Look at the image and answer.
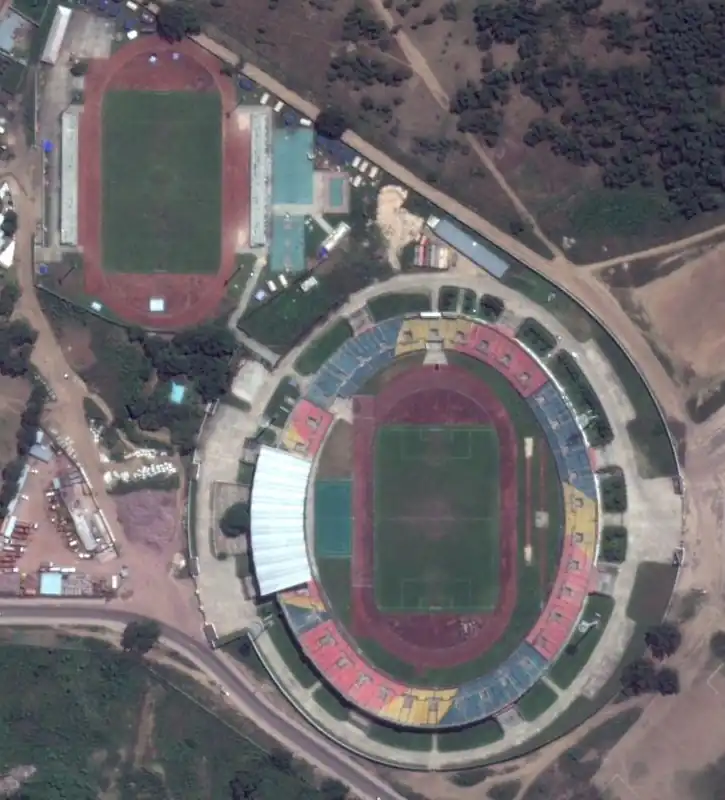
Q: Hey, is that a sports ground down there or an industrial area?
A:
sports ground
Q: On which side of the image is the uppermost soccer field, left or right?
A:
left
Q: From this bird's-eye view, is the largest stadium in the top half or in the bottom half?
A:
bottom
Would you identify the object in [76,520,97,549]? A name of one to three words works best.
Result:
building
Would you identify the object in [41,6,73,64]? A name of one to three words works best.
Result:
building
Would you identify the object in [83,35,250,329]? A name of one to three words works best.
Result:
running track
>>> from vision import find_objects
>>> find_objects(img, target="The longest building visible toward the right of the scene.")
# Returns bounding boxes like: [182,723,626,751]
[431,219,512,278]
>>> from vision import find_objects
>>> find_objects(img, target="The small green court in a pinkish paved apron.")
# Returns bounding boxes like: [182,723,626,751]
[314,171,350,212]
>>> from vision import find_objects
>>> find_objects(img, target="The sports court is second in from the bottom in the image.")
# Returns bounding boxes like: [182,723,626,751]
[271,215,305,271]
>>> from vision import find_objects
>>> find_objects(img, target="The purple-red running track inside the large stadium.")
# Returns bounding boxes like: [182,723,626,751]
[353,366,517,669]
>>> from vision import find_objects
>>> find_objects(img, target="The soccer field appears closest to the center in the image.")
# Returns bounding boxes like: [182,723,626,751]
[373,424,499,612]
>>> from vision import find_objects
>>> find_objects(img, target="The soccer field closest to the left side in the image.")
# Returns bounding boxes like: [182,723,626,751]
[103,91,220,273]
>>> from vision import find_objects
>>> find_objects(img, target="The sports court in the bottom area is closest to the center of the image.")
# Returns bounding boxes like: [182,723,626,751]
[316,480,352,556]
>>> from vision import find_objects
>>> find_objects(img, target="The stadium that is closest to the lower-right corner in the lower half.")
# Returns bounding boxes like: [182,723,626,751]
[250,311,609,730]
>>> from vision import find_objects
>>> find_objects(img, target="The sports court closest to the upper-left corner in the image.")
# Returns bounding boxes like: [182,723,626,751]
[273,127,314,205]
